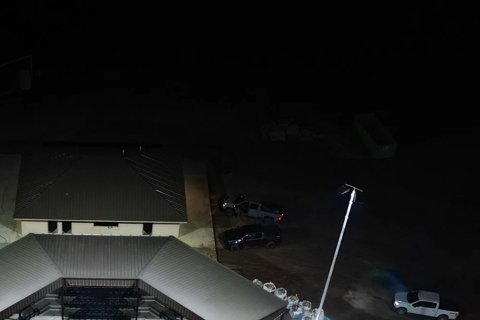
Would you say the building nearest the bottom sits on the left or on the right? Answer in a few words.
left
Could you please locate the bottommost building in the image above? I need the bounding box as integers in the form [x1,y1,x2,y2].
[13,130,188,237]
